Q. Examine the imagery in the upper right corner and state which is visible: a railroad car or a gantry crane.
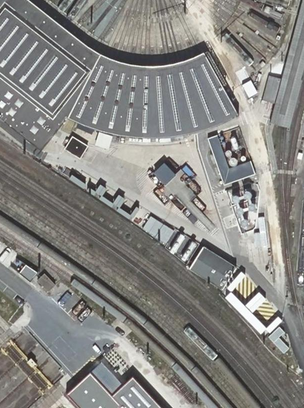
railroad car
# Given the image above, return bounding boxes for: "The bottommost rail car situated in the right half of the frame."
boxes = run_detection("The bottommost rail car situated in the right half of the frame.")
[184,328,219,359]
